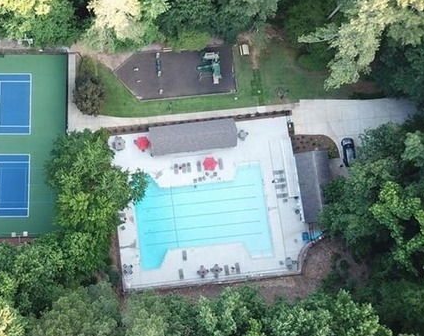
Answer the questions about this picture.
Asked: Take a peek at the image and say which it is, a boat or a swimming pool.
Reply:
swimming pool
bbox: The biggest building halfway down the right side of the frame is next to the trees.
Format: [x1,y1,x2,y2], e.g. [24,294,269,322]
[294,150,337,223]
